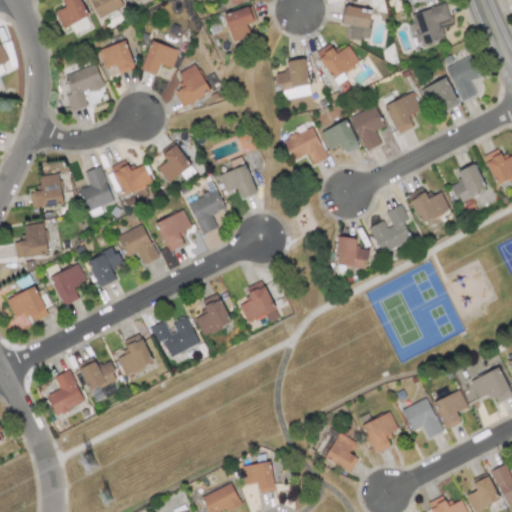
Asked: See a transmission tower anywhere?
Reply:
Yes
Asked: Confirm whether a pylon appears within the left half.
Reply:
Yes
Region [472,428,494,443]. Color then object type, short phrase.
white vehicle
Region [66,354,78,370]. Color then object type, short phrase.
white vehicle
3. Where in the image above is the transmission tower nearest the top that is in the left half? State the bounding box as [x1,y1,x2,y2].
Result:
[76,453,100,478]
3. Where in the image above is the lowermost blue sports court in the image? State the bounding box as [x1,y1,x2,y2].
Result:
[367,261,465,362]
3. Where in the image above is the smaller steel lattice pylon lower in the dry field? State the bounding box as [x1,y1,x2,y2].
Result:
[98,490,117,510]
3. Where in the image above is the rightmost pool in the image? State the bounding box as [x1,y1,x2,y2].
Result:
[398,29,412,51]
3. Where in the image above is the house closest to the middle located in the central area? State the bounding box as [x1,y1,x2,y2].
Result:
[242,280,280,322]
